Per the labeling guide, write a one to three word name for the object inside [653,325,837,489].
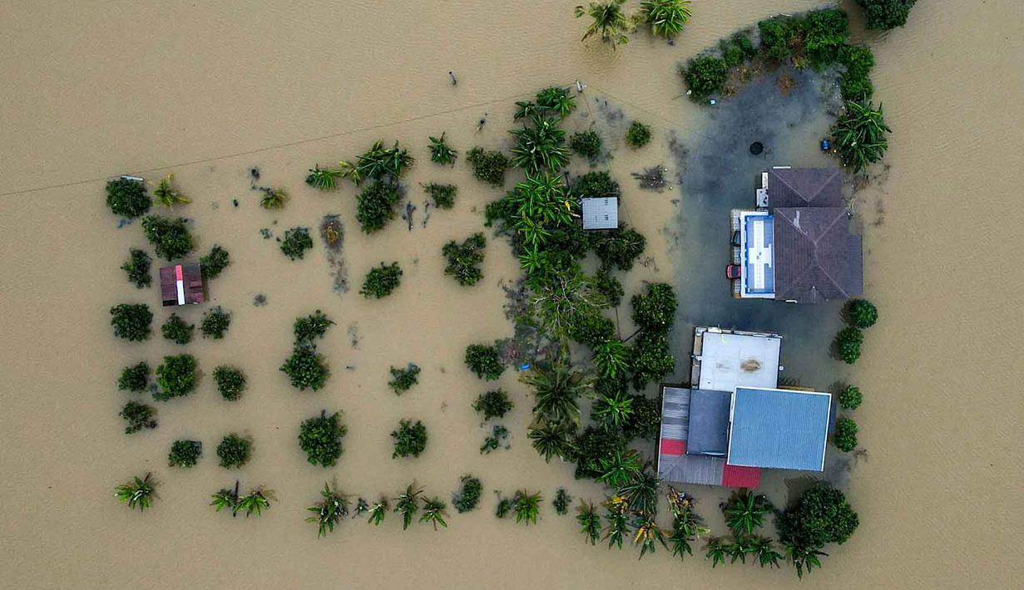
house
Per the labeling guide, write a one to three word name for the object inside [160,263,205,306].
shed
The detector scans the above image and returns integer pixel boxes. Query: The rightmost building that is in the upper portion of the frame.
[731,166,864,304]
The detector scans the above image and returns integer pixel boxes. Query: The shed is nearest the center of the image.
[582,196,618,230]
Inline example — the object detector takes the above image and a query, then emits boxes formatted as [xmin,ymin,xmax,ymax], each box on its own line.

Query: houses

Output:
[731,166,864,304]
[653,325,837,489]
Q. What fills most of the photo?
water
